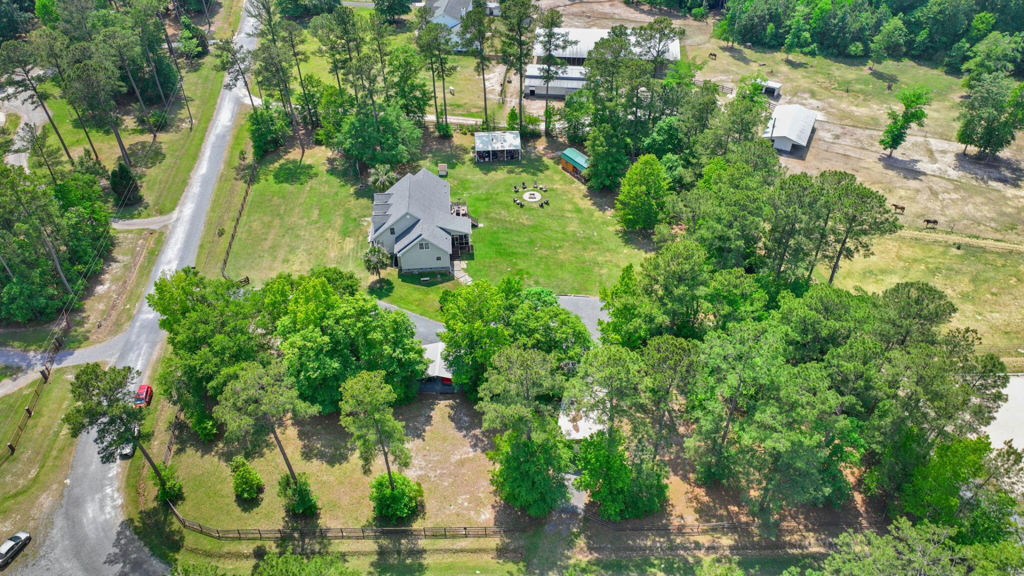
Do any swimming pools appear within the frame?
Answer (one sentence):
No, the frame has no swimming pool in it.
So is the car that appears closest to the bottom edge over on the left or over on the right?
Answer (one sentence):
The car that appears closest to the bottom edge sits on the left side.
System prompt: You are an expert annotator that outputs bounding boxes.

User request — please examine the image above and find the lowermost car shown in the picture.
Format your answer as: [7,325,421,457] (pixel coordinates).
[0,531,34,568]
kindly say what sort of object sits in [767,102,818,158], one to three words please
barn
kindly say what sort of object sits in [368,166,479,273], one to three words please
house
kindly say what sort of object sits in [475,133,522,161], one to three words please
shed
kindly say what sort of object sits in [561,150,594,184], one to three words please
building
